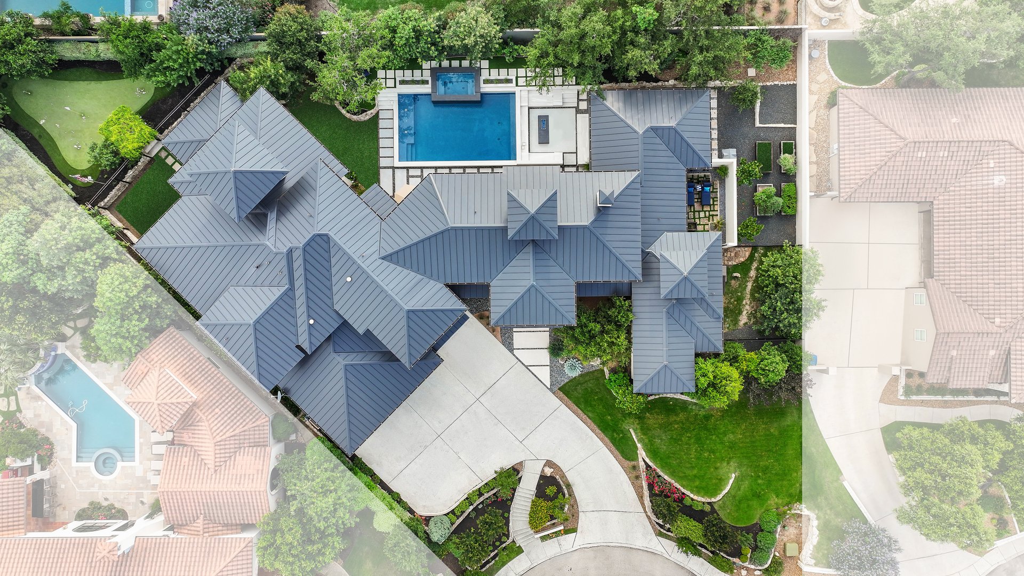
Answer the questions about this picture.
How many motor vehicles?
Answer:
zero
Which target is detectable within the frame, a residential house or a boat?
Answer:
residential house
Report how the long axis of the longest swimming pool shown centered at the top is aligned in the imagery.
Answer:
from left to right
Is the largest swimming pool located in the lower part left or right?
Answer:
left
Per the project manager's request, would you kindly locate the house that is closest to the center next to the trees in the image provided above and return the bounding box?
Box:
[133,79,724,455]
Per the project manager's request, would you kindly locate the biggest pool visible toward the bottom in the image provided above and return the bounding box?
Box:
[32,343,140,466]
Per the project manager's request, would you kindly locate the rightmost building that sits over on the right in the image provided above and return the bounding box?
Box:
[823,86,1024,405]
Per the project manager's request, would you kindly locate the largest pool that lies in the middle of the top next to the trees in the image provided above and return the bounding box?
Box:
[393,90,563,165]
